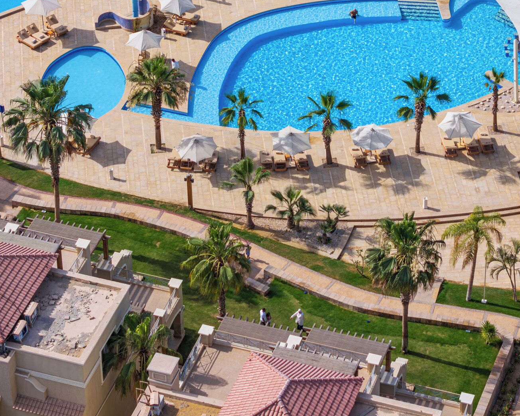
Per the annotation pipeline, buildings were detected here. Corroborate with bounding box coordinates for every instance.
[0,213,206,416]
[139,313,486,416]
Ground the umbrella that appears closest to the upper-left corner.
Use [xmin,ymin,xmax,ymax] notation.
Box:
[20,0,63,33]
